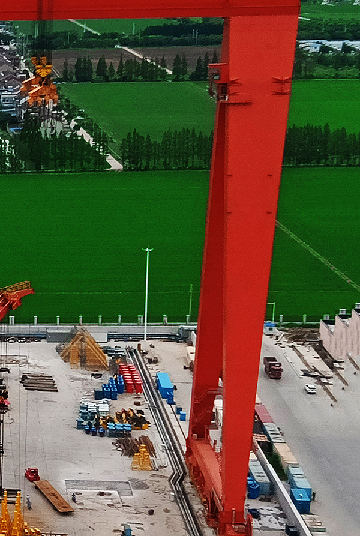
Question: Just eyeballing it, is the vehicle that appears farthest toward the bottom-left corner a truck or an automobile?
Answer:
truck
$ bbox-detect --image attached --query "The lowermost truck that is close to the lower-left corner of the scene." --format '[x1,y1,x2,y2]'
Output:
[22,459,74,511]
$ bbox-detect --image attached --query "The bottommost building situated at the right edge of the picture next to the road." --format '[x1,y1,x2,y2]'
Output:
[320,305,360,381]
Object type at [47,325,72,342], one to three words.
shed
